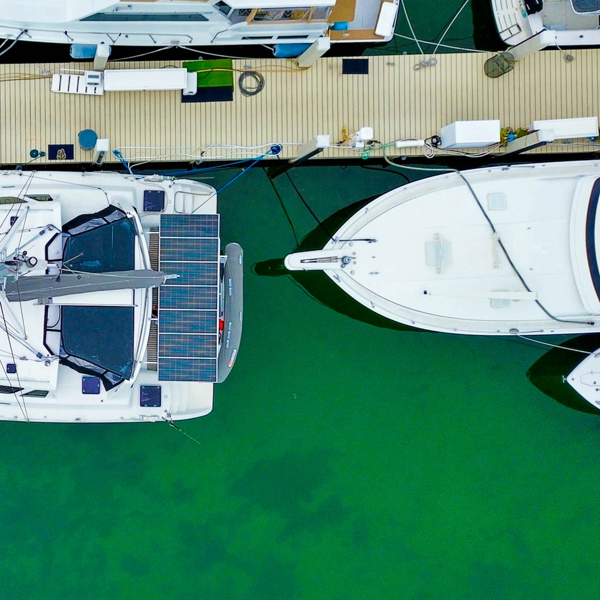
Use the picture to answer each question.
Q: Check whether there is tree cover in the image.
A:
No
